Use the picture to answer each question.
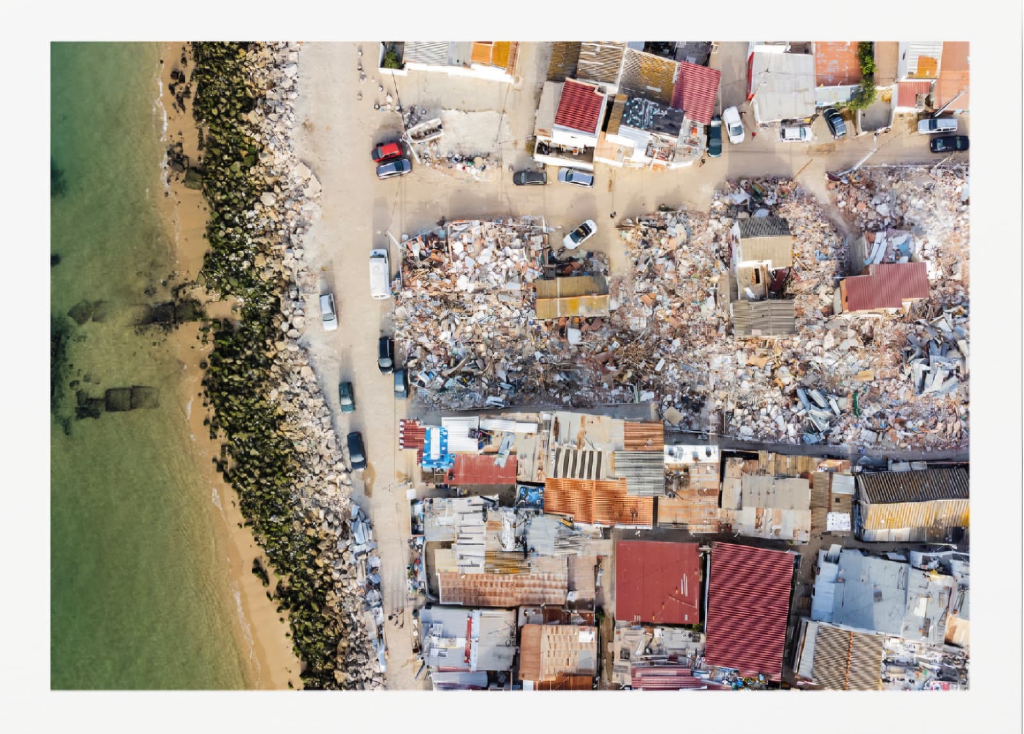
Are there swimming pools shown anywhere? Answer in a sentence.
No, no swimming pool is visible in the scene.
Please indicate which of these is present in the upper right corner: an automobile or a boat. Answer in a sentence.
What appears in the upper right corner is an automobile.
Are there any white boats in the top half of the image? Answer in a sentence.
Yes, you'll find a white boat in the top half of the image.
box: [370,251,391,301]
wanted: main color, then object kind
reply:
white vehicle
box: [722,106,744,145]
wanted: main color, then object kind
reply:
white car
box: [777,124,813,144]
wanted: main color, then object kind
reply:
white car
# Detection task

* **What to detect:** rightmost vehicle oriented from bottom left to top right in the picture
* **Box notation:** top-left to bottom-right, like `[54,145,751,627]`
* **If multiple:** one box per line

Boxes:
[560,219,599,251]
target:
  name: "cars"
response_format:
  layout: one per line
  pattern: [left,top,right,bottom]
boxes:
[347,431,367,470]
[560,219,599,251]
[375,158,414,180]
[915,116,956,135]
[928,134,967,153]
[556,167,595,188]
[371,143,405,162]
[706,116,724,155]
[777,124,813,144]
[320,293,339,330]
[338,379,356,413]
[392,368,409,401]
[514,169,547,187]
[377,336,395,374]
[722,106,744,145]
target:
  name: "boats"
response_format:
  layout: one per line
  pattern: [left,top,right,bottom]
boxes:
[403,115,445,139]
